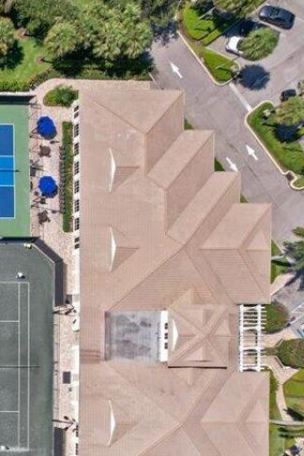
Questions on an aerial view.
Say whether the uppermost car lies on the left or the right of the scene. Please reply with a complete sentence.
The uppermost car appears in the right half of the scene.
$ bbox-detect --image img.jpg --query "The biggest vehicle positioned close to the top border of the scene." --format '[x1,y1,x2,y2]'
[258,5,299,28]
